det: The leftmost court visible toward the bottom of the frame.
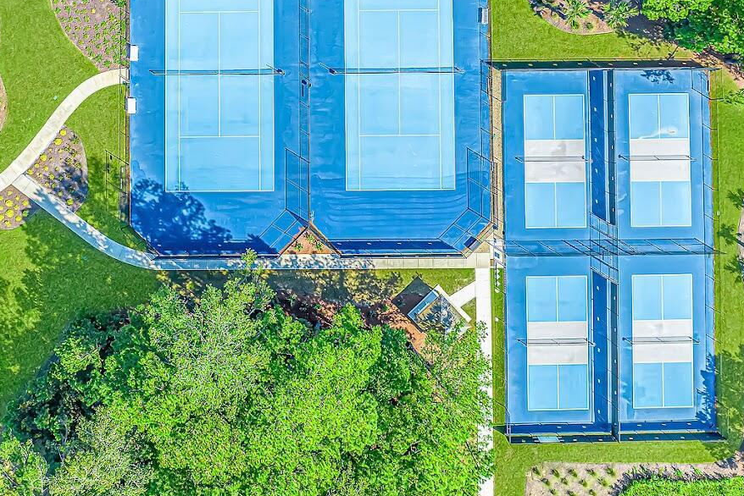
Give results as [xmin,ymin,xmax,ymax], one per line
[505,251,609,435]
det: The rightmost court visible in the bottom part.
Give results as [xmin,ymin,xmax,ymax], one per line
[608,250,717,434]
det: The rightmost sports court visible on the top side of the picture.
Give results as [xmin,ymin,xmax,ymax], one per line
[607,68,713,250]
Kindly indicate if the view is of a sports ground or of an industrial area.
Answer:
sports ground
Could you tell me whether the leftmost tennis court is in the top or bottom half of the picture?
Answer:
top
